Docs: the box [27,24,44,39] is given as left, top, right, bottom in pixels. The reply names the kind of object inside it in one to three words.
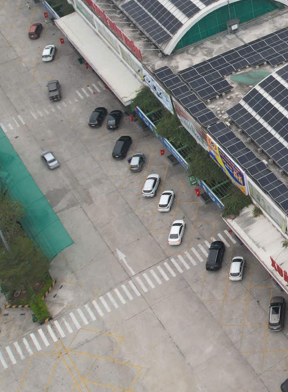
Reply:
car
